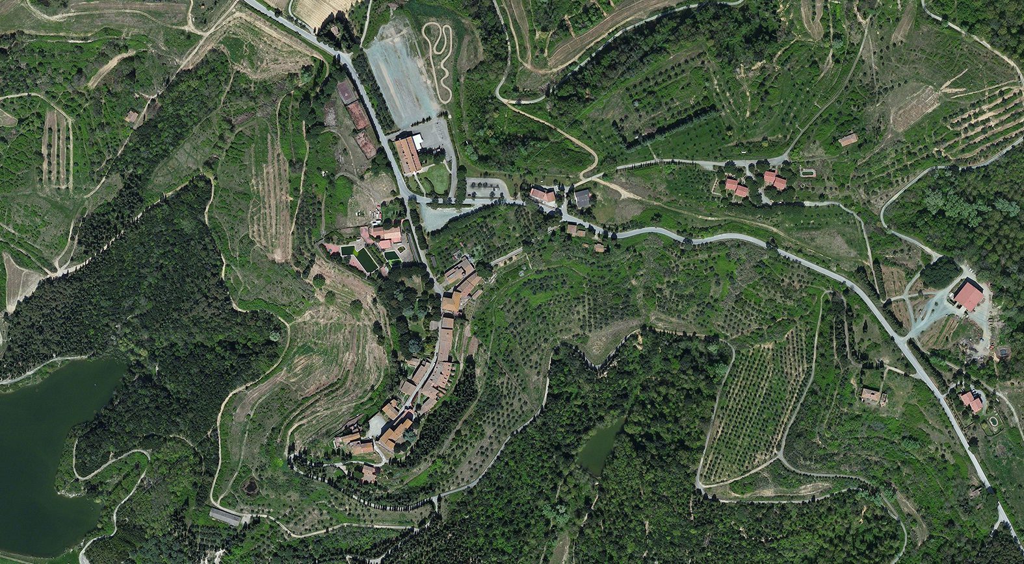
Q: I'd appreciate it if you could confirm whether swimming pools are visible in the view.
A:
Yes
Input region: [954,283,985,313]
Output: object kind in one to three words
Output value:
barn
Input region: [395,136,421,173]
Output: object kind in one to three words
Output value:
building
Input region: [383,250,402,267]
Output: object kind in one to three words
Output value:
swimming pool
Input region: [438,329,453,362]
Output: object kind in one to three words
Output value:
house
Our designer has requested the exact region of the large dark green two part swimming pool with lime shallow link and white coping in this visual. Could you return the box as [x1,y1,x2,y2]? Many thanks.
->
[340,245,379,273]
